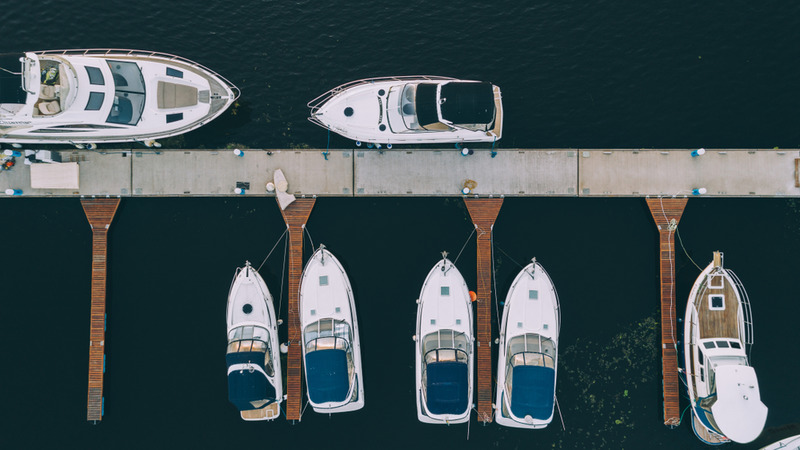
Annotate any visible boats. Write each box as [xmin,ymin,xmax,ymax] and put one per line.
[416,252,474,423]
[677,252,768,445]
[298,243,366,416]
[762,434,800,450]
[496,258,560,430]
[308,76,504,145]
[0,49,242,145]
[226,259,283,422]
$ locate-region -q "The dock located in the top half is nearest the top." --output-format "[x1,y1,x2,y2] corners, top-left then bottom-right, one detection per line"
[0,150,800,198]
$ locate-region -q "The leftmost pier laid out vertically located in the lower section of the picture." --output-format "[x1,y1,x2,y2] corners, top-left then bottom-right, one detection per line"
[80,196,123,426]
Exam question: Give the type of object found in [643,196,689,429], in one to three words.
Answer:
pier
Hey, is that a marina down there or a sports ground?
marina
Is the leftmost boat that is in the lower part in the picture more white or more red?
white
